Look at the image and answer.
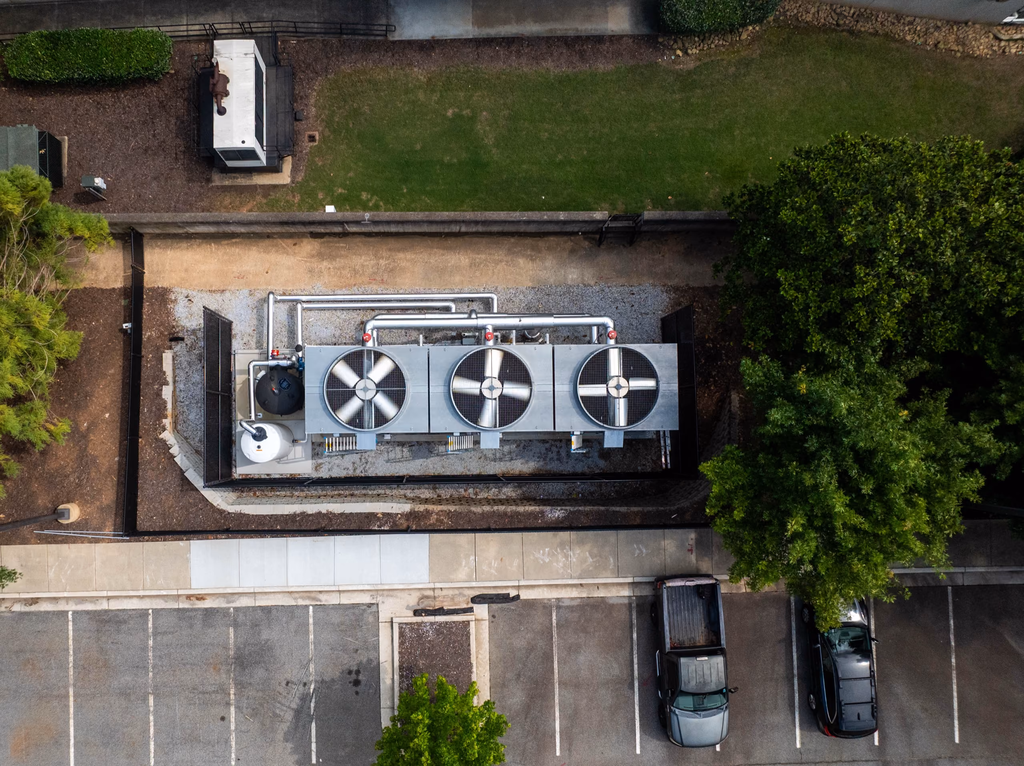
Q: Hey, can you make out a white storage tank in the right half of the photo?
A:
No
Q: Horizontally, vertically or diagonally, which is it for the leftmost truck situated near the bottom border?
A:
vertically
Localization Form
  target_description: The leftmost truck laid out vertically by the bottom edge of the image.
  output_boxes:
[648,567,738,747]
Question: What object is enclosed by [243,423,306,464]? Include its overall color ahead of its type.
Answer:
white storage tank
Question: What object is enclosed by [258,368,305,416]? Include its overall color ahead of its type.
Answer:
black storage tank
